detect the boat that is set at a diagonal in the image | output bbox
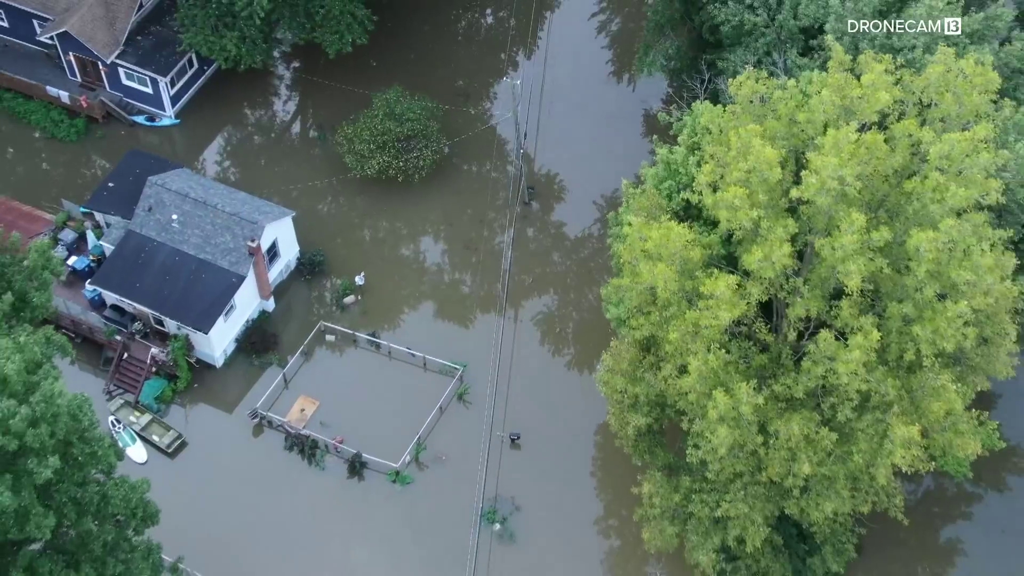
[106,391,189,458]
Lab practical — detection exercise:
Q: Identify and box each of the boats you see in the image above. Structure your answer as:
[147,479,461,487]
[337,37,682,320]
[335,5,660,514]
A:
[129,114,180,125]
[106,391,189,458]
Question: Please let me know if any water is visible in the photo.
Yes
